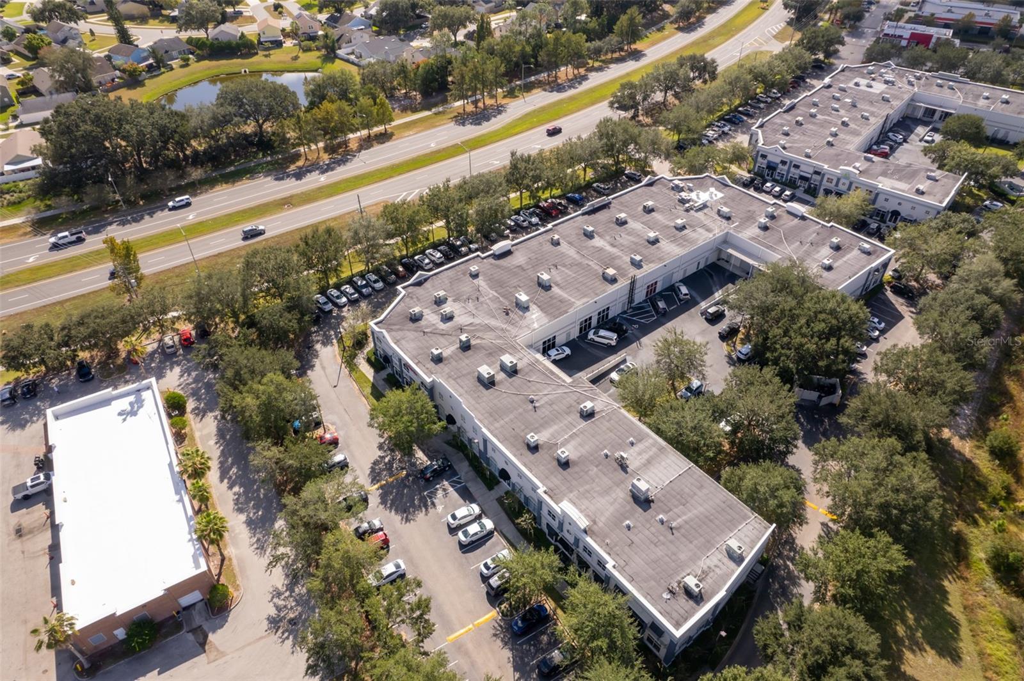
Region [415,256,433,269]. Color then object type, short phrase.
gray vehicle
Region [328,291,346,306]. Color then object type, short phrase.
gray car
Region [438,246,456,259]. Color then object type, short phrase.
black vehicle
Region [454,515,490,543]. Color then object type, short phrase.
white car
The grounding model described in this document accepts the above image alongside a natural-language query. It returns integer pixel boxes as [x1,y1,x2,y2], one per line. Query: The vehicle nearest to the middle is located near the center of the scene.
[544,346,571,363]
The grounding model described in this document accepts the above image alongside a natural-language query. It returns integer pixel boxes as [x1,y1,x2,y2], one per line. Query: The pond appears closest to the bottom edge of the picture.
[160,71,324,114]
